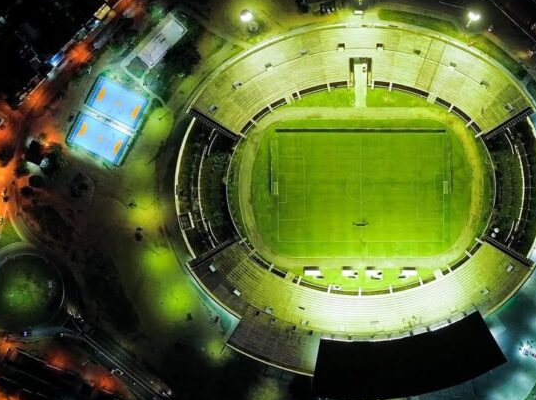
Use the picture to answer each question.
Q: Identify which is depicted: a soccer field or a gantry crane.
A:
soccer field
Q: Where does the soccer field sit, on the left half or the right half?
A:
right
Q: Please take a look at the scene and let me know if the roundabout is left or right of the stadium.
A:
to the left of it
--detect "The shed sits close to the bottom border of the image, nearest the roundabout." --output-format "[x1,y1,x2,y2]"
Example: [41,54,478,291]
[2,341,70,381]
